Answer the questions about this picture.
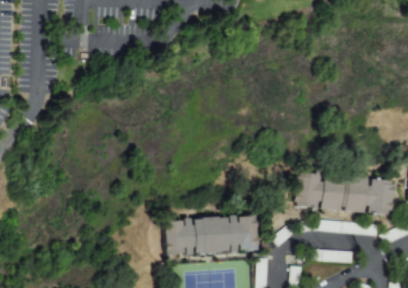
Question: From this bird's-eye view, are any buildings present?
Yes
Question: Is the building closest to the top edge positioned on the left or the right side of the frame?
right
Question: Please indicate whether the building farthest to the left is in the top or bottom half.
bottom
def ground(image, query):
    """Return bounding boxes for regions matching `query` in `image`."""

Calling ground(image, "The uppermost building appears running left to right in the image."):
[296,172,395,214]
